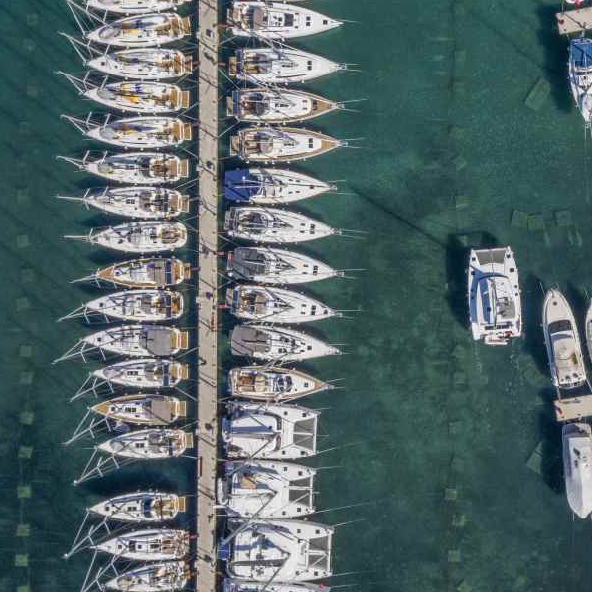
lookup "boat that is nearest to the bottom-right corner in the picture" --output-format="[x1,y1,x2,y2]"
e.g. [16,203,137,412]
[561,415,592,562]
